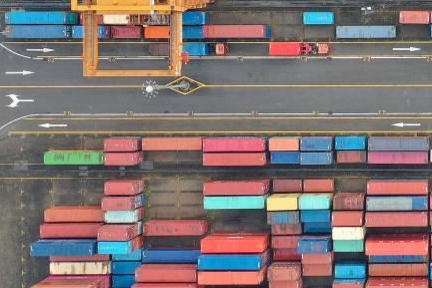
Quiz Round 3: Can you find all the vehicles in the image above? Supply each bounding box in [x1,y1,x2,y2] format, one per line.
[209,42,229,57]
[301,41,331,56]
